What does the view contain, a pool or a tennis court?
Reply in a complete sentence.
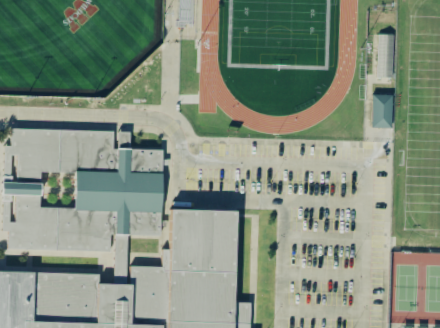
This aerial view contains a tennis court.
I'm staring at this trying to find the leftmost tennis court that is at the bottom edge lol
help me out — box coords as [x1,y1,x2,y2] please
[394,264,419,312]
